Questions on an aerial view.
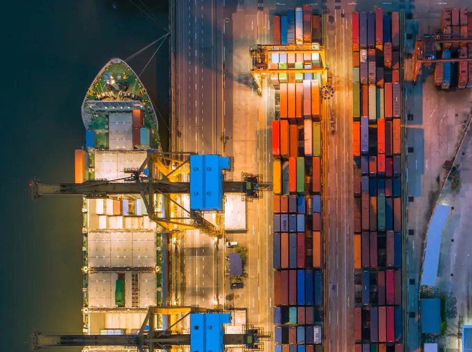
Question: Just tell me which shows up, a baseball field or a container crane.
container crane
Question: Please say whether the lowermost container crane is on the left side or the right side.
left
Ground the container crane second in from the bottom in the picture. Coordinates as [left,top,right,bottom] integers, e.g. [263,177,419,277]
[29,149,270,243]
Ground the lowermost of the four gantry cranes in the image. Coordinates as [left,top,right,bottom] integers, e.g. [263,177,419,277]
[29,294,270,352]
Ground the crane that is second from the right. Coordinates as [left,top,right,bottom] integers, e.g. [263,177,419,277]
[251,31,329,100]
